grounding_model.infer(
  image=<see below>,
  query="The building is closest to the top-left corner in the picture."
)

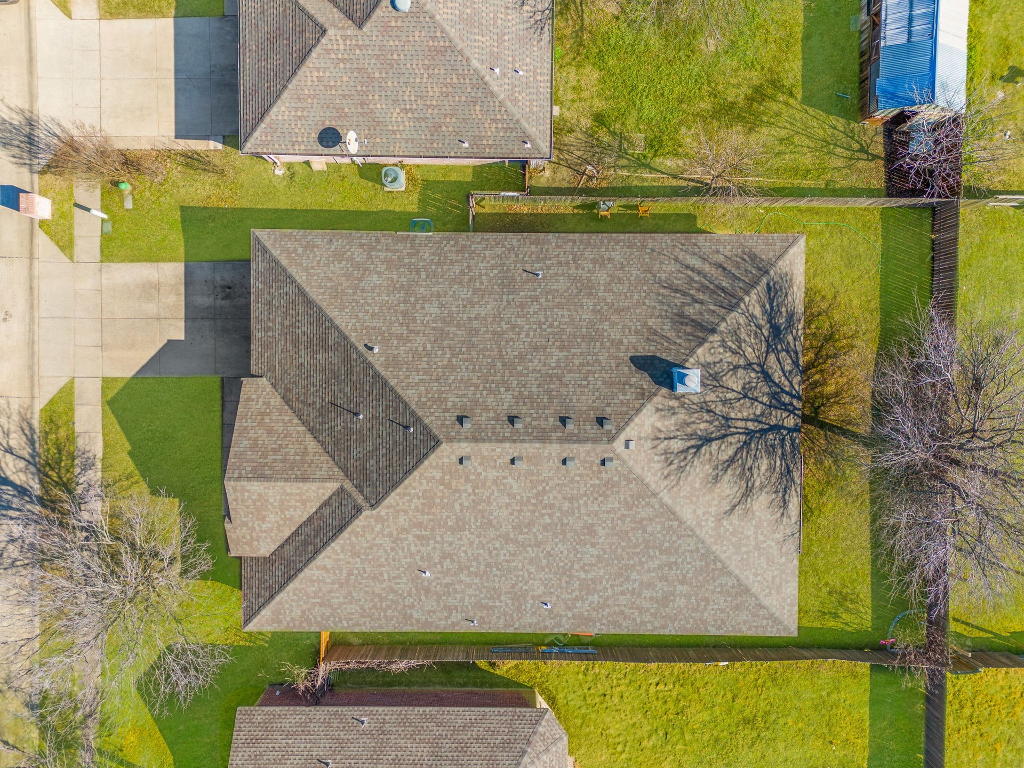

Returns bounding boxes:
[234,0,559,169]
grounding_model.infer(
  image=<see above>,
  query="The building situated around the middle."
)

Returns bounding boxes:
[220,228,806,638]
